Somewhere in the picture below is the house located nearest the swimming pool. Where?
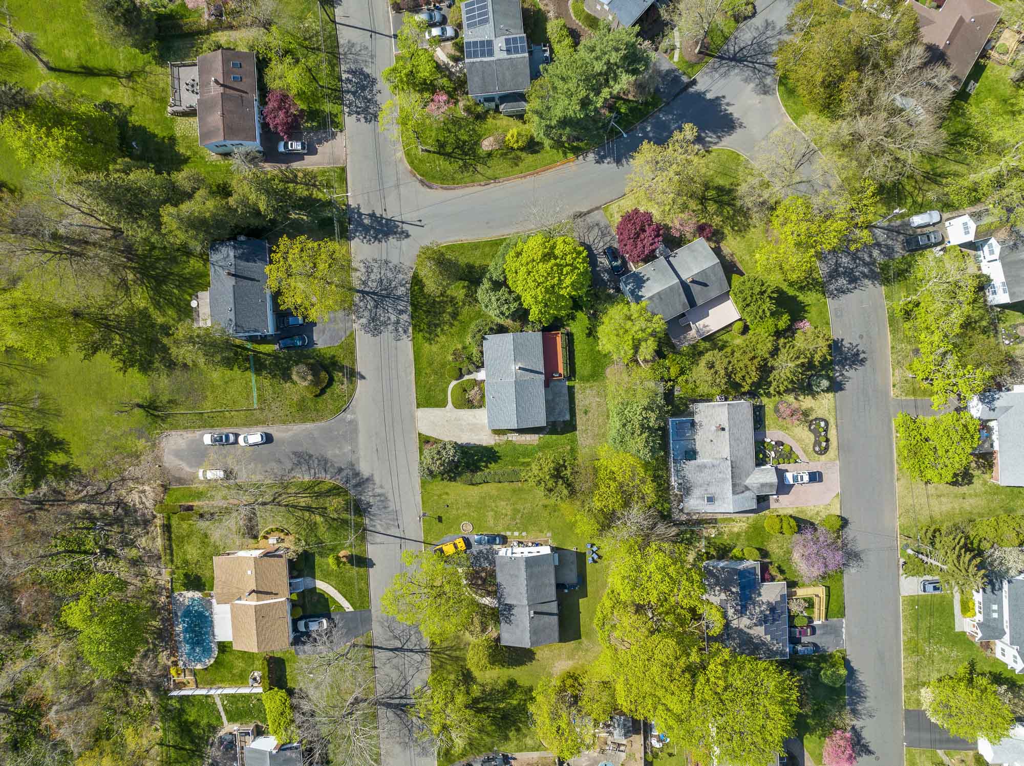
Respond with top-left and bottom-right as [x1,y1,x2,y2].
[213,543,303,653]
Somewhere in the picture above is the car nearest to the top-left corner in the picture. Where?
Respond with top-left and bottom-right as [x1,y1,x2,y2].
[277,138,309,155]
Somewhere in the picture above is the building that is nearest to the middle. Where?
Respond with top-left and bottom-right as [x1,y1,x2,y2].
[474,332,546,430]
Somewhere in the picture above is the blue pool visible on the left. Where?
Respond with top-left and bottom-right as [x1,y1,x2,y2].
[177,596,214,665]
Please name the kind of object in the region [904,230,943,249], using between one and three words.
vehicle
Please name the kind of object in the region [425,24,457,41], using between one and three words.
car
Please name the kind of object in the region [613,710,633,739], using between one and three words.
shed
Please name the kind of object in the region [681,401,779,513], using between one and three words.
house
